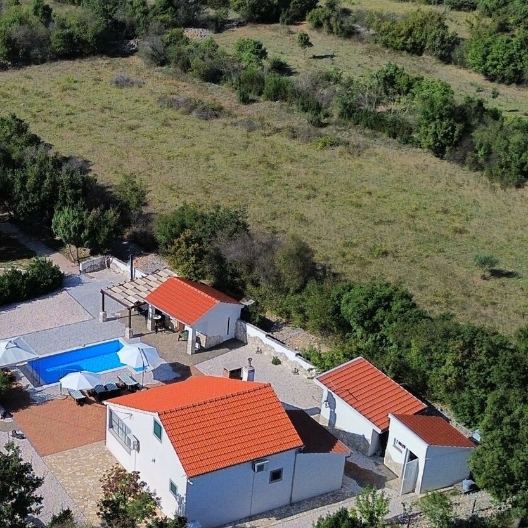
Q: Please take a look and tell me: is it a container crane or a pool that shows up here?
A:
pool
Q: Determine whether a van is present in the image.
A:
No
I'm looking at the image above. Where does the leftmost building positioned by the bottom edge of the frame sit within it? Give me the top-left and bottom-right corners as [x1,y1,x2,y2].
[101,377,353,528]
